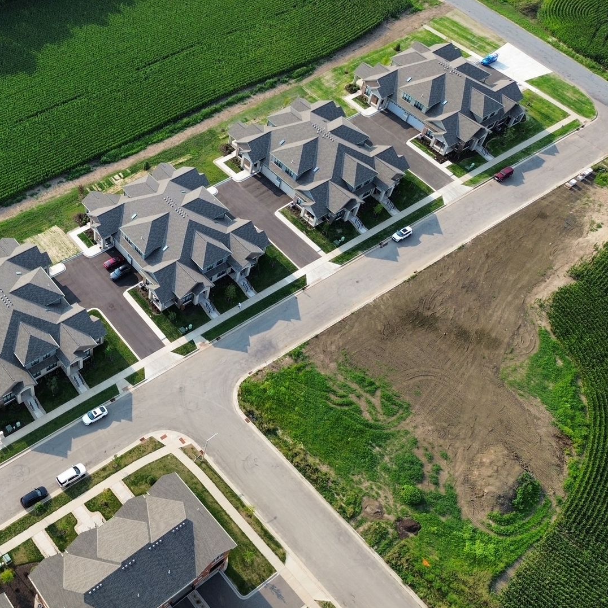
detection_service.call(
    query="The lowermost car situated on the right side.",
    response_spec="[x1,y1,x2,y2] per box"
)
[391,223,414,243]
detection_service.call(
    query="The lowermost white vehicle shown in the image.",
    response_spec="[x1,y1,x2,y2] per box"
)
[53,463,88,489]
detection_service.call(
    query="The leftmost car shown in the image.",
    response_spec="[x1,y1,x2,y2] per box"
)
[17,484,50,511]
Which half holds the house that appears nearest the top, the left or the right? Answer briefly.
right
